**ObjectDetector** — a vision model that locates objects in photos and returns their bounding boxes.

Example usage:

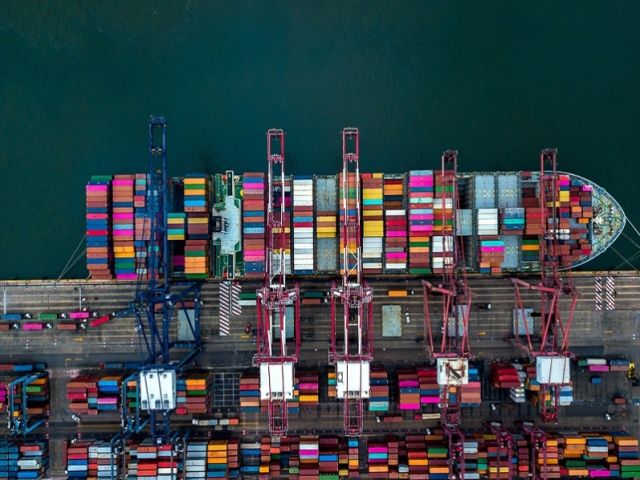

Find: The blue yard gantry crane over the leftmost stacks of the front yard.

[8,370,49,434]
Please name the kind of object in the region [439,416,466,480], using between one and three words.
container crane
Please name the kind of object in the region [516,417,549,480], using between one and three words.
container crane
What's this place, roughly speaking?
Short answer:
port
